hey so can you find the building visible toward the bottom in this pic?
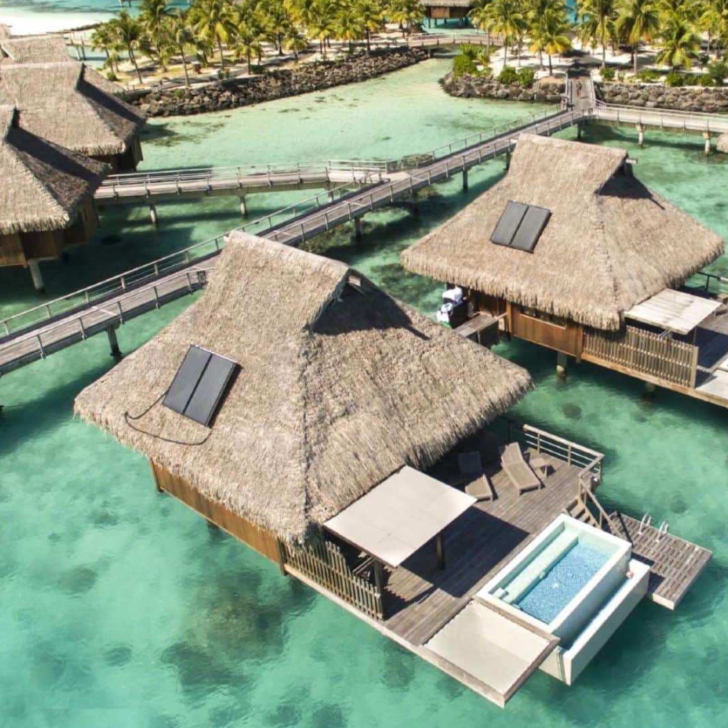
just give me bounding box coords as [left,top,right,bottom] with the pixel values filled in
[75,229,715,701]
